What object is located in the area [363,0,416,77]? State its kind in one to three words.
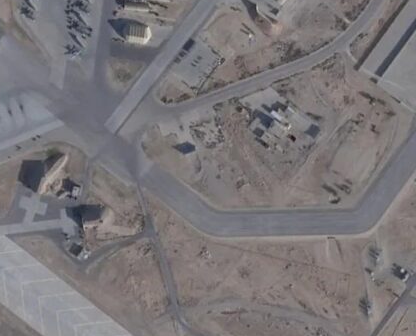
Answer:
building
